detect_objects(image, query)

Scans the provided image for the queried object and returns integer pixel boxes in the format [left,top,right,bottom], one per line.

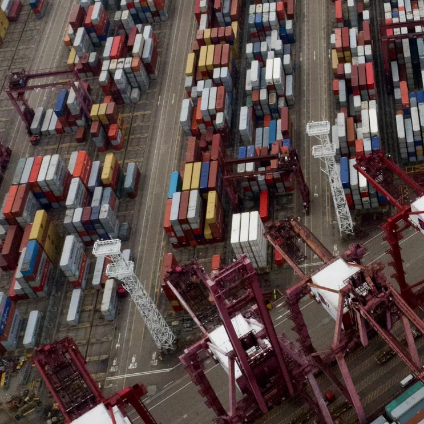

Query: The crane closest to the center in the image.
[215,146,308,218]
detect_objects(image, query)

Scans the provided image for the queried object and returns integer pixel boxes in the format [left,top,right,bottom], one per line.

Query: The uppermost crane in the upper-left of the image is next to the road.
[0,65,93,141]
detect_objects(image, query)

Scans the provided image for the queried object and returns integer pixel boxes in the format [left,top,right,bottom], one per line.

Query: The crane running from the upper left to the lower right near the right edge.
[256,205,424,424]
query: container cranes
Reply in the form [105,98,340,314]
[215,146,308,218]
[357,148,424,313]
[256,205,424,424]
[378,19,424,92]
[0,65,93,141]
[158,262,336,424]
[29,335,165,424]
